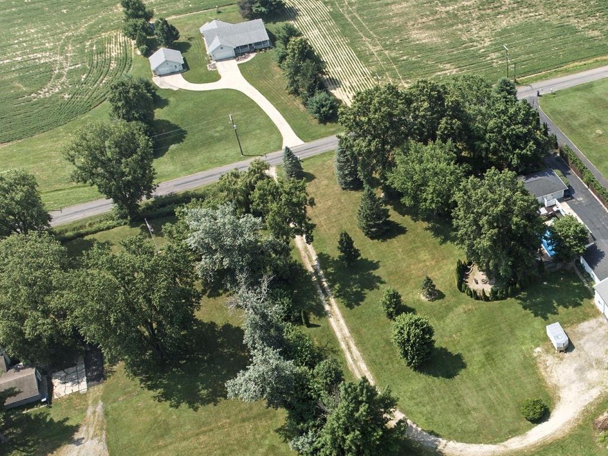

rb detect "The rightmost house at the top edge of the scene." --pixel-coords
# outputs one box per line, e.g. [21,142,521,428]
[198,7,272,60]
